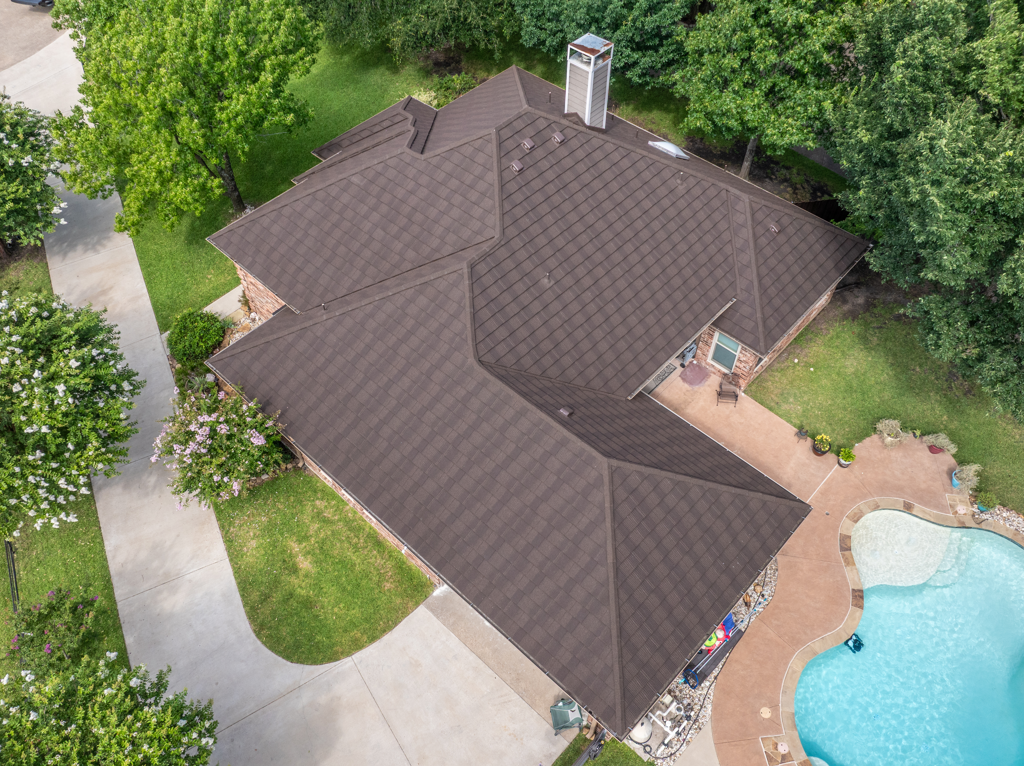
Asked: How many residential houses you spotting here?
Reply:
1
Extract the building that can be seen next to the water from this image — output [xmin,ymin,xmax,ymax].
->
[205,33,873,744]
